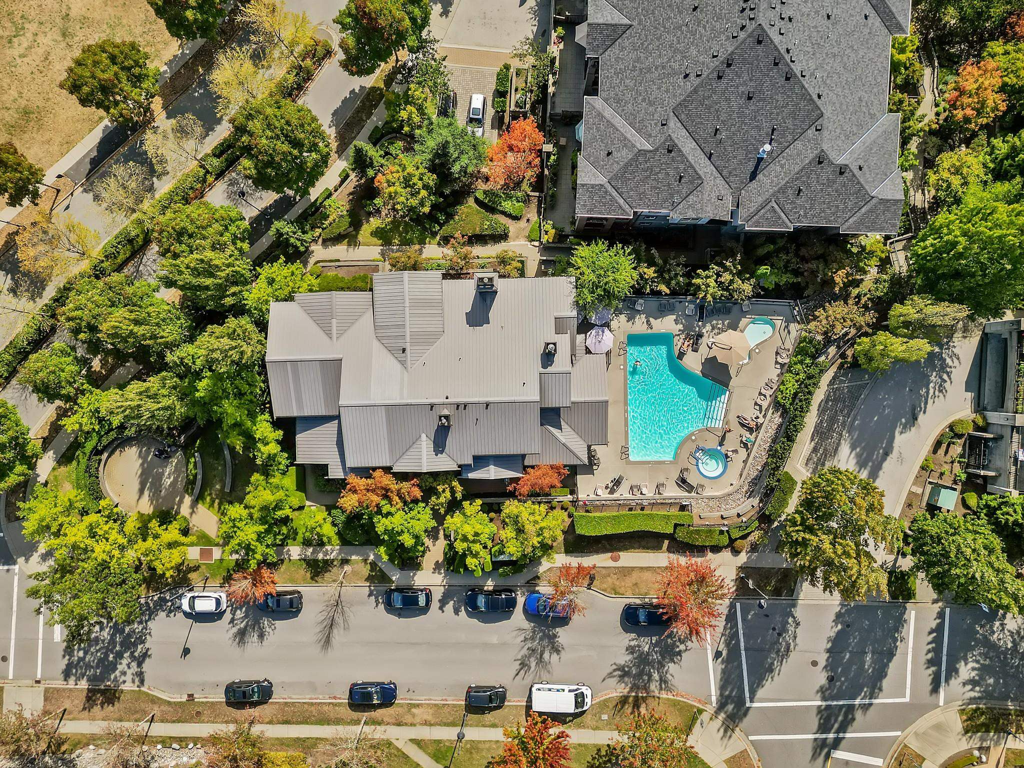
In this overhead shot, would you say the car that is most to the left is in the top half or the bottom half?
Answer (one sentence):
The car that is most to the left sits in the bottom half of the picture.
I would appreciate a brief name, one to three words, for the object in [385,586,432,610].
car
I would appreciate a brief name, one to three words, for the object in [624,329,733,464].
swimming pool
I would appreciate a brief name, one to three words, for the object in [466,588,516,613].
car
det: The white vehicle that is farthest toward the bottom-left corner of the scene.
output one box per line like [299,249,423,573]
[182,591,229,615]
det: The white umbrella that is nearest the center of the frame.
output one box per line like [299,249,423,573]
[585,327,613,354]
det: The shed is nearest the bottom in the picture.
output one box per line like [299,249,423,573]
[917,477,961,510]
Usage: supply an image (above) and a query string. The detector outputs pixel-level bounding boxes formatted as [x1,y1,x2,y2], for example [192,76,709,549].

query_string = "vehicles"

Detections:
[385,586,432,610]
[466,588,516,613]
[349,680,398,707]
[257,589,305,613]
[620,601,676,628]
[182,591,229,615]
[525,593,570,618]
[466,683,506,708]
[530,683,590,715]
[225,679,274,705]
